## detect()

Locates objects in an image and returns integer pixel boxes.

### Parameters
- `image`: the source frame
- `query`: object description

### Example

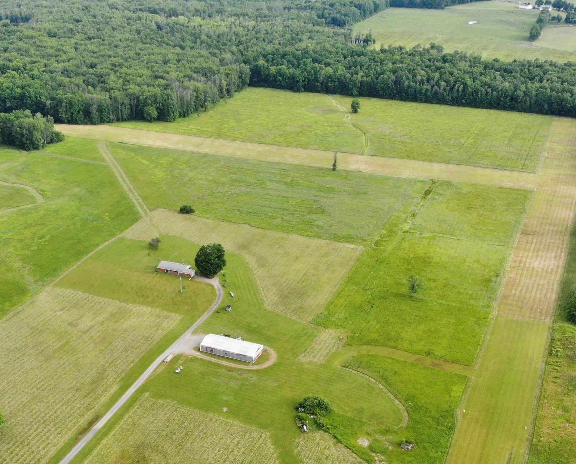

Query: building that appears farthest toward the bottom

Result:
[201,333,262,363]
